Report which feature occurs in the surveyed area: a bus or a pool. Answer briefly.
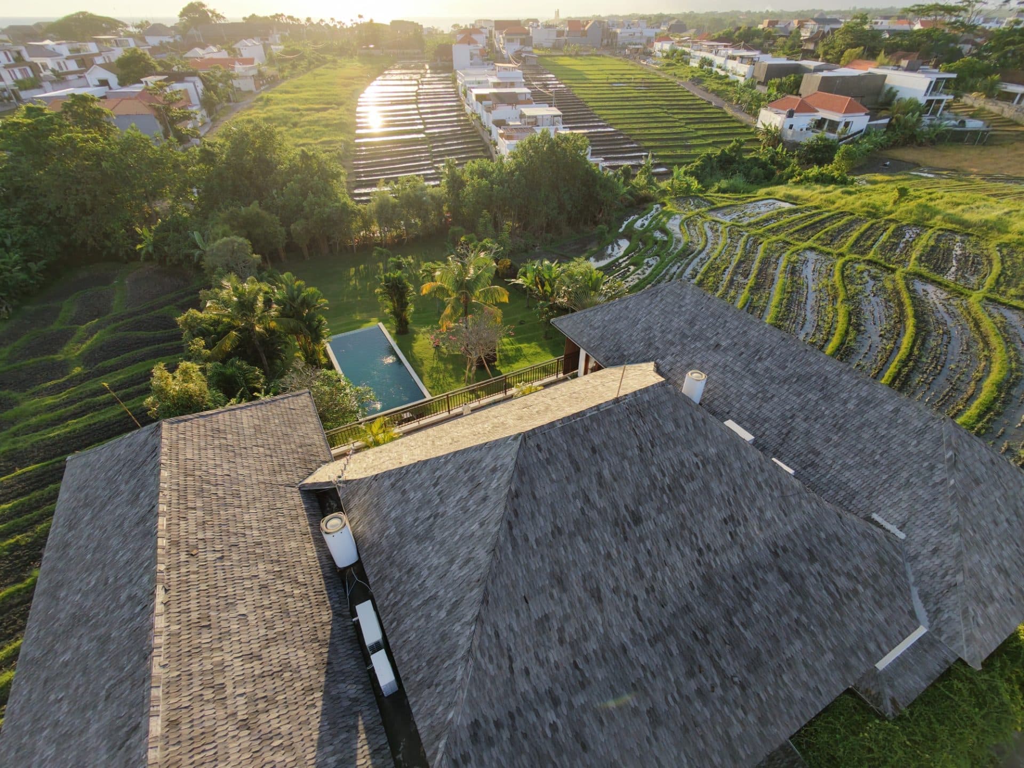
pool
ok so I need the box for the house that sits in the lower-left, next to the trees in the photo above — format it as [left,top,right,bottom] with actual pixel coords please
[0,392,387,768]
